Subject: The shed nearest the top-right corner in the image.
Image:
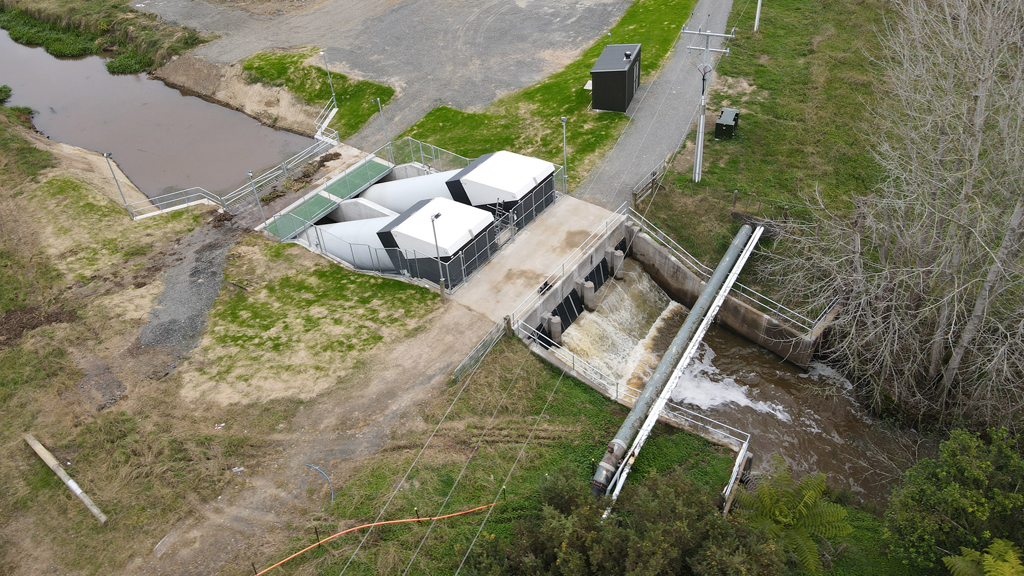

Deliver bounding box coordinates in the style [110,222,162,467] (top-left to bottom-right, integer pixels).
[590,47,643,111]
